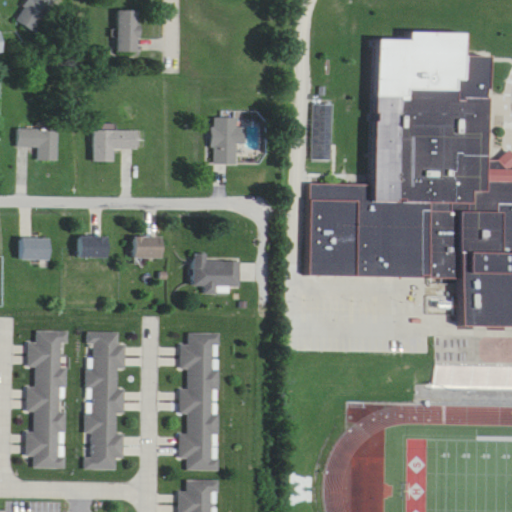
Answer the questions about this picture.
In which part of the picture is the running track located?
bottom right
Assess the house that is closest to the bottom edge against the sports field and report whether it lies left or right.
left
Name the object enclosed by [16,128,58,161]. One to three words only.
house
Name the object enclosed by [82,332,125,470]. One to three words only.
house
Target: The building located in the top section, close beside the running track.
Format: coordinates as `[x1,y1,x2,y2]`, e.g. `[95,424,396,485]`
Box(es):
[306,32,512,330]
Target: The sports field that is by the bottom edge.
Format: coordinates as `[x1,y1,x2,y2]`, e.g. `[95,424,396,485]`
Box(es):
[384,425,512,512]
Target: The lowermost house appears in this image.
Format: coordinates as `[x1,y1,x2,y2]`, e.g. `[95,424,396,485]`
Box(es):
[176,480,219,512]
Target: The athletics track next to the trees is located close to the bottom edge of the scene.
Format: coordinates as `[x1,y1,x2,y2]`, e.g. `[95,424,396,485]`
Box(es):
[324,402,512,512]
